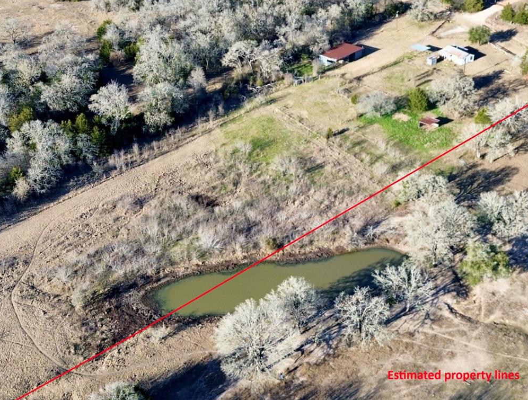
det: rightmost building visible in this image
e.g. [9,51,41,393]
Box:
[439,42,476,65]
